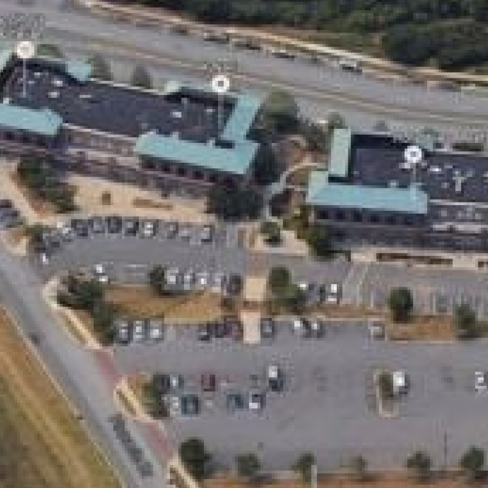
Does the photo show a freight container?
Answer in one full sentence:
No, I can see no freight container in this picture.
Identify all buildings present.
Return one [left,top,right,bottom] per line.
[0,50,270,201]
[308,127,488,256]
